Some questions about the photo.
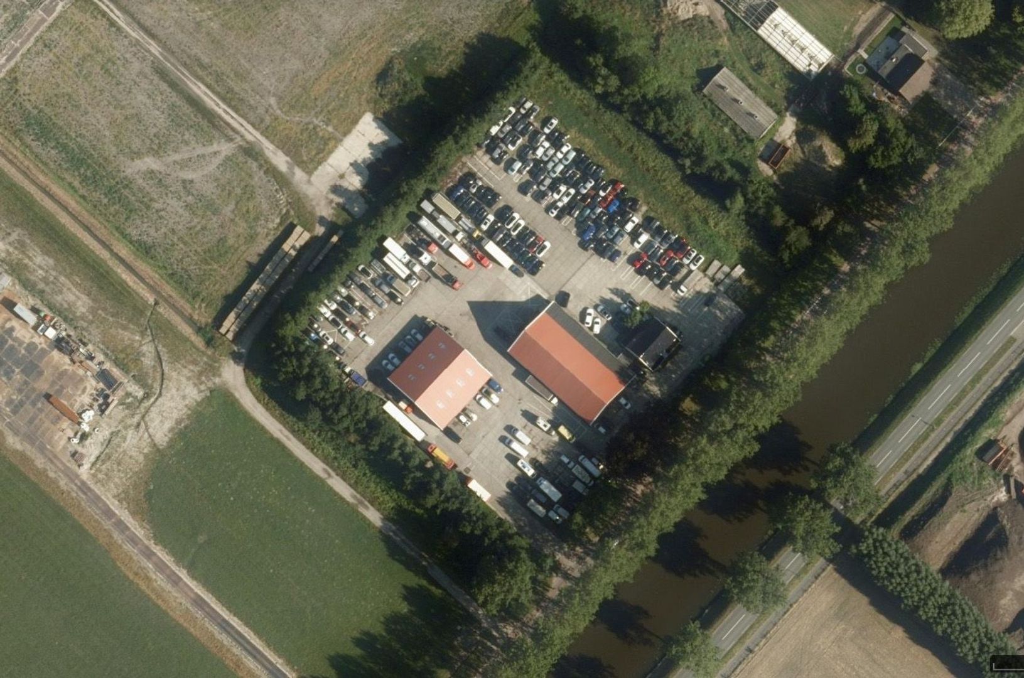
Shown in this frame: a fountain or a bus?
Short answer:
bus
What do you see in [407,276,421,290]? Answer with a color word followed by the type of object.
white vehicle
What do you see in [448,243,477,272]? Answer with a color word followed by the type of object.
white truck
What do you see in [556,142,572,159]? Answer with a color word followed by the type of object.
white car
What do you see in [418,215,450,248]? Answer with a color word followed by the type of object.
white bus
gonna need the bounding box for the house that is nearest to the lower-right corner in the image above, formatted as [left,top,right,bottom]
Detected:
[624,316,681,372]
